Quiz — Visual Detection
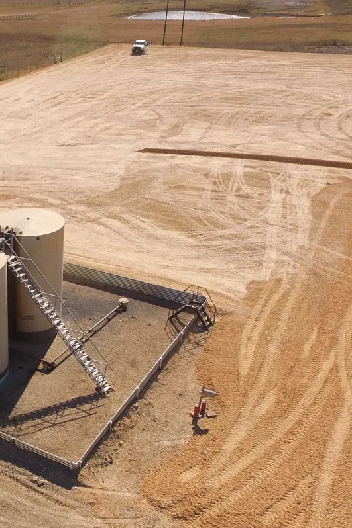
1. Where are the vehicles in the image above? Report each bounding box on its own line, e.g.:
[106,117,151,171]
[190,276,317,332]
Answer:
[129,38,149,54]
